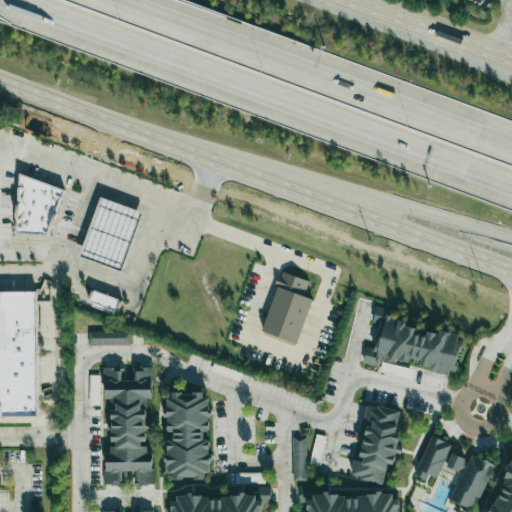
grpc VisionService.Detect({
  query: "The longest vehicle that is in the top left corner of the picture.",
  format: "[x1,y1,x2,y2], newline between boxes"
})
[8,3,54,26]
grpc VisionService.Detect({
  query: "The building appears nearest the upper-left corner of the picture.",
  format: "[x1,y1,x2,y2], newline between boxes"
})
[17,174,66,236]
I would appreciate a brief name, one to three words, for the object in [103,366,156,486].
building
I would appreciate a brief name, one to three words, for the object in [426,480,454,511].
swimming pool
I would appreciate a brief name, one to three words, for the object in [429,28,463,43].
vehicle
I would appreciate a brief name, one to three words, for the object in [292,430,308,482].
building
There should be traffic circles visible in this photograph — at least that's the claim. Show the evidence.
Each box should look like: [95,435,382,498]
[454,357,512,438]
